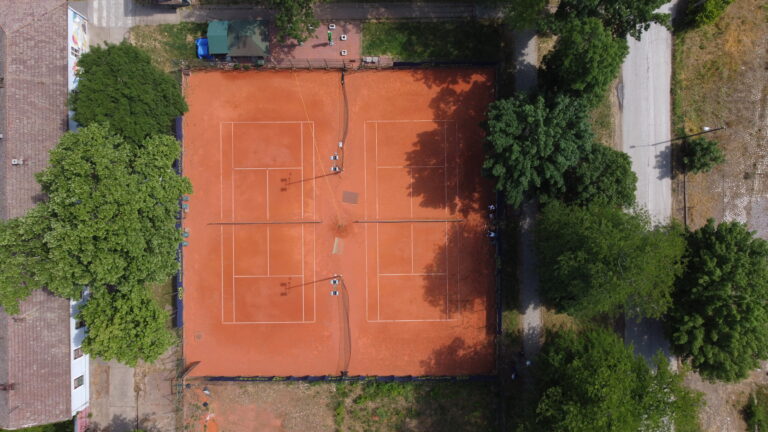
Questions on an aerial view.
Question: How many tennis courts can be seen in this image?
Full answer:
In total, 2 tennis courts can be seen.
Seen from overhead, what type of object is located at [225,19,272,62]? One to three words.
building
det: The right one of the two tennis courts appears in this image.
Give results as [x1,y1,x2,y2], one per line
[340,68,495,376]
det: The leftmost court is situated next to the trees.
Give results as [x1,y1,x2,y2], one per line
[183,68,340,376]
